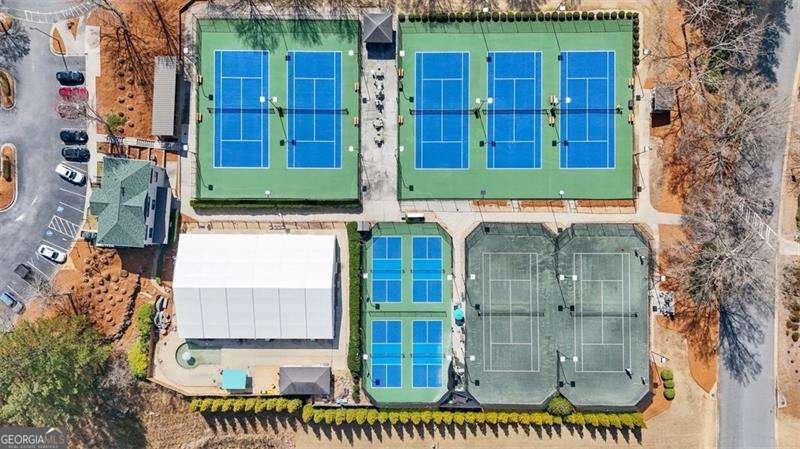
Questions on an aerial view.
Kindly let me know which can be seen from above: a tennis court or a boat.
tennis court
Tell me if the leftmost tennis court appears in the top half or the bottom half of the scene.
top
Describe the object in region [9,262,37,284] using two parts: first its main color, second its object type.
gray truck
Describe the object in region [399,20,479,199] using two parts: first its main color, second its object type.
green tennis court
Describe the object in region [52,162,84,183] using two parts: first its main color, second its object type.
white truck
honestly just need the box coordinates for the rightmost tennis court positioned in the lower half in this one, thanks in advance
[556,224,651,404]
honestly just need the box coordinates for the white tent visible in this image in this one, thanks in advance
[172,233,338,340]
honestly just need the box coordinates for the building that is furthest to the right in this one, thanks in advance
[646,88,673,112]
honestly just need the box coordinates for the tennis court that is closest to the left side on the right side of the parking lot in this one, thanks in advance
[197,20,278,199]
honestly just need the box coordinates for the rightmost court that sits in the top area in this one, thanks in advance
[552,20,634,199]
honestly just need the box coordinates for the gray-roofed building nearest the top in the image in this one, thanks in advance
[363,12,392,45]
